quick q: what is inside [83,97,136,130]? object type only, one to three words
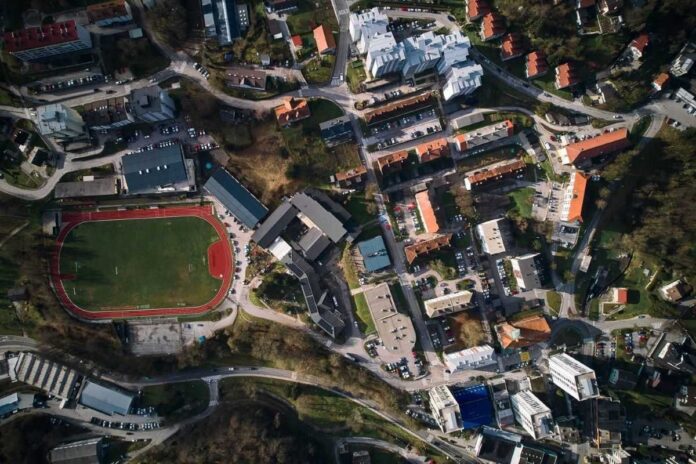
building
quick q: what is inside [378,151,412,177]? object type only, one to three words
house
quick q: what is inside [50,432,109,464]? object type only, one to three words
barn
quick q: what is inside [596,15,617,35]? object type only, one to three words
shed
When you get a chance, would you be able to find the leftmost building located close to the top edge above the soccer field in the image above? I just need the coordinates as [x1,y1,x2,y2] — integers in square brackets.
[5,19,92,61]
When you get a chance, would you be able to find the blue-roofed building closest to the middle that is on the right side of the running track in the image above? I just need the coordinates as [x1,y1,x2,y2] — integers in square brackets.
[358,236,391,272]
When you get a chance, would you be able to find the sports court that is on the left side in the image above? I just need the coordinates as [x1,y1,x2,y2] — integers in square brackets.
[130,319,181,355]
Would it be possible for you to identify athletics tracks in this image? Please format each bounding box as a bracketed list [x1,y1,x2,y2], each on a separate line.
[50,205,233,319]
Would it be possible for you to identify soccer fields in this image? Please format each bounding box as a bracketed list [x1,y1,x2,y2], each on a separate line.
[58,216,222,311]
